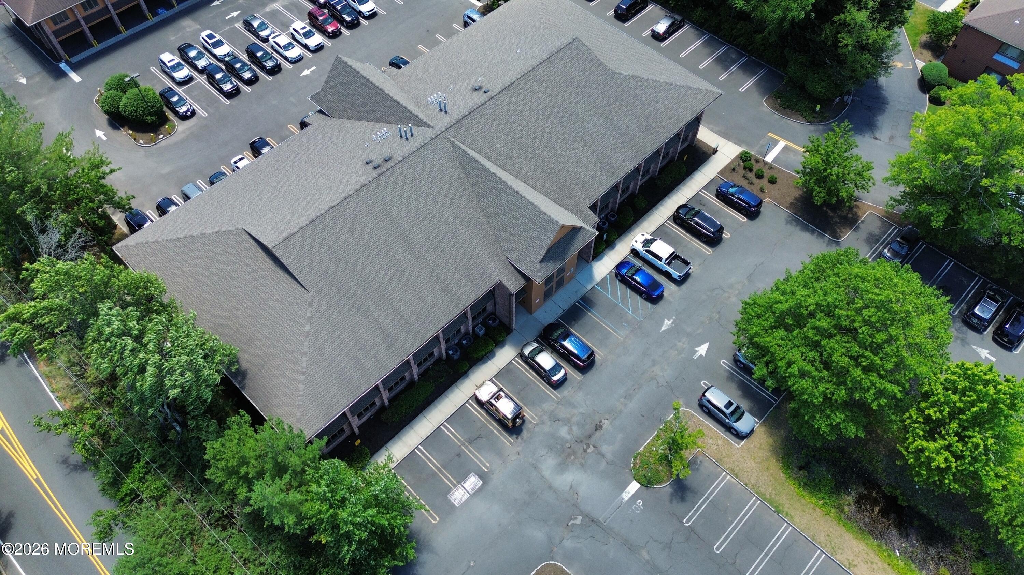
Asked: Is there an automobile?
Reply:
Yes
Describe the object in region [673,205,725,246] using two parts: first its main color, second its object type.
black car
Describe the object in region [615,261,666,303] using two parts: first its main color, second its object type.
blue car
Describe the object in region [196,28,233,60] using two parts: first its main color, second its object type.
white car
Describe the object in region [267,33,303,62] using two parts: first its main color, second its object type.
white car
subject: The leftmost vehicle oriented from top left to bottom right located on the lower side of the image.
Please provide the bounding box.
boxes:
[471,378,526,430]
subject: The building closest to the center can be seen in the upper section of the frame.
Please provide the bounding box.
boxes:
[111,0,724,458]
